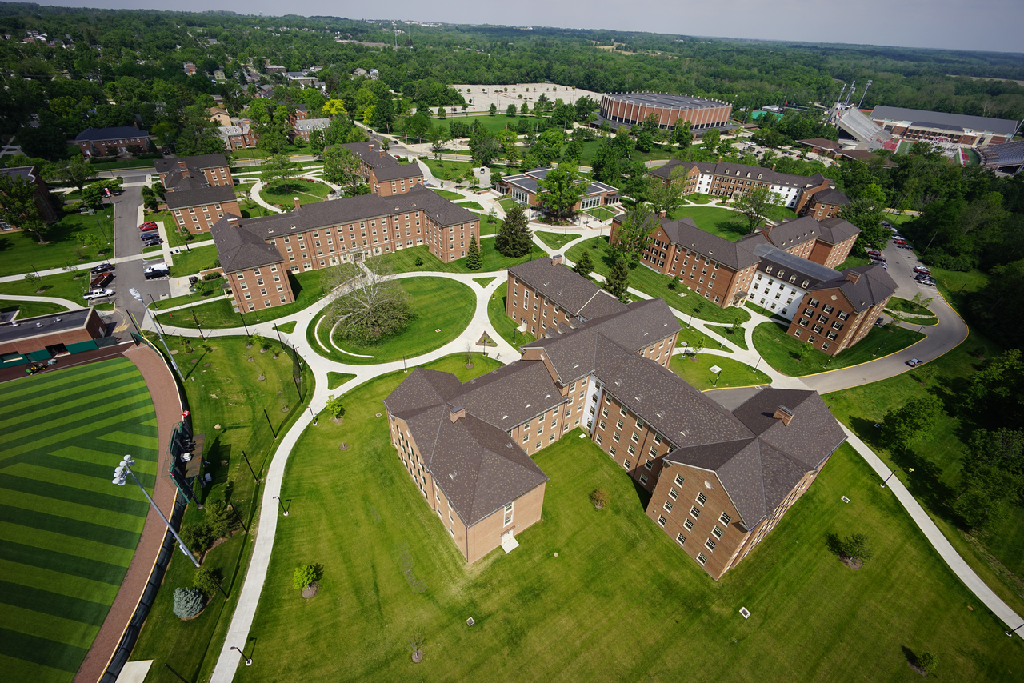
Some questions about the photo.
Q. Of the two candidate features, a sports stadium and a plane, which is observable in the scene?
sports stadium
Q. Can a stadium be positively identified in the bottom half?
No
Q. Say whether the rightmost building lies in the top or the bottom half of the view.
top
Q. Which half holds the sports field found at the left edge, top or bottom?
bottom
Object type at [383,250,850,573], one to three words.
building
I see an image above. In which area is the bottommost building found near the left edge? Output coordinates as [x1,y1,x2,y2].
[0,307,104,368]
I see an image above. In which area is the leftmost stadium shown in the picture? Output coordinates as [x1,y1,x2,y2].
[576,90,753,142]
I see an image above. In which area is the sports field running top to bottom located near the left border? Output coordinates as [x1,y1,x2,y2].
[0,357,159,683]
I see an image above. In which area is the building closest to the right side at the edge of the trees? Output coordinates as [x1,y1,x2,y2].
[869,108,1017,150]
